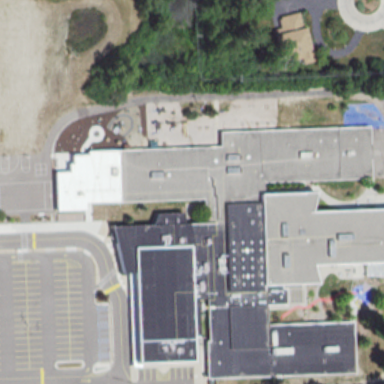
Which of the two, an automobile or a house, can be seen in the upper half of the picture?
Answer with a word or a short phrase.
house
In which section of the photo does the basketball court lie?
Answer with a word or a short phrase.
left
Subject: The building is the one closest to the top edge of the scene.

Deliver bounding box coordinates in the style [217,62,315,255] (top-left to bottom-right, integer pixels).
[279,11,318,68]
